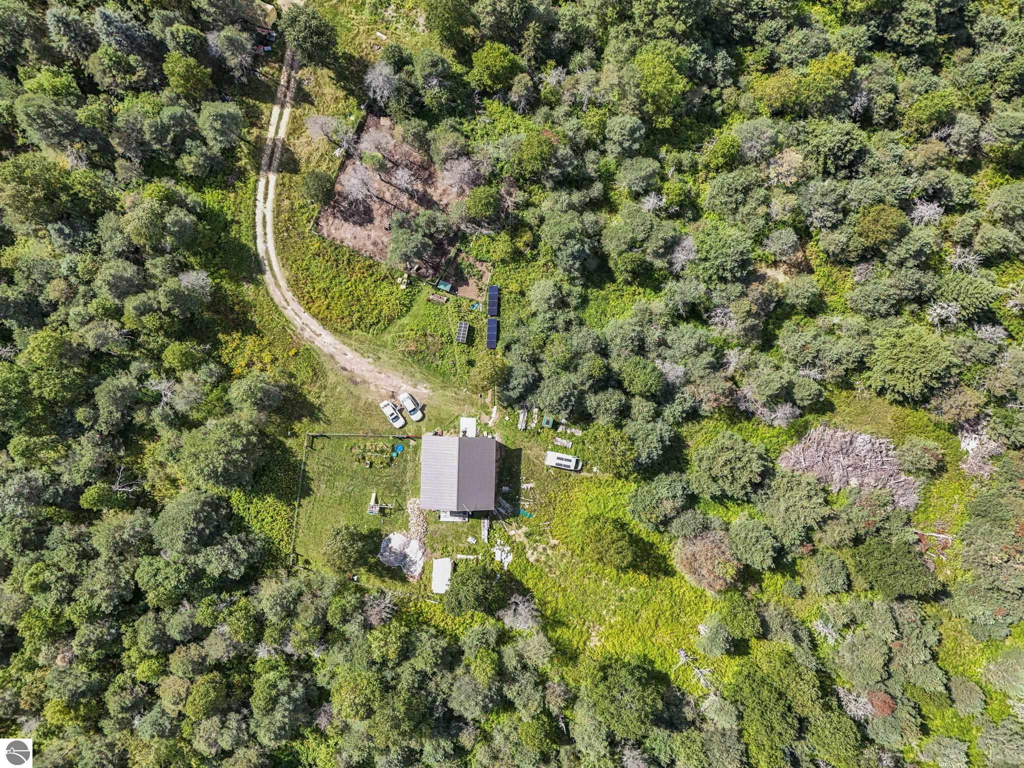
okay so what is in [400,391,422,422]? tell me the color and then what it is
white car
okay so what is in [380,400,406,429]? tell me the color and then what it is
white car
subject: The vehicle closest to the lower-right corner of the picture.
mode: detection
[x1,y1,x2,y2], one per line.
[544,451,582,472]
